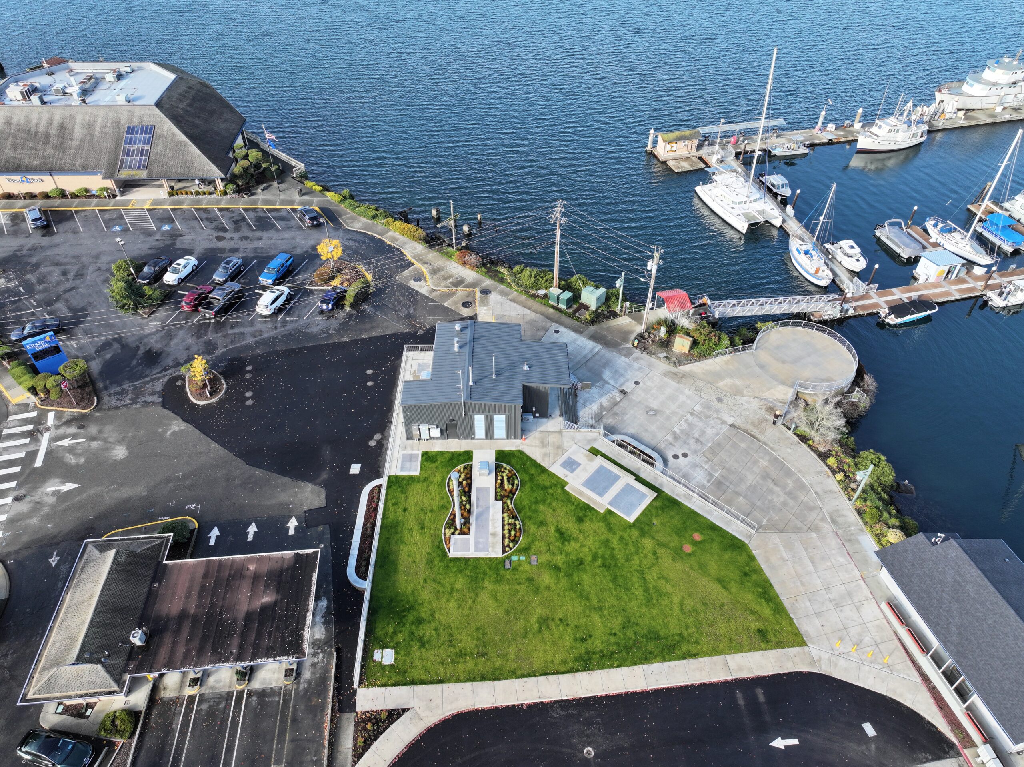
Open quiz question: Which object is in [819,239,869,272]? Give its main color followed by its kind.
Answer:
white boat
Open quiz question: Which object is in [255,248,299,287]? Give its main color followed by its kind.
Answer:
blue truck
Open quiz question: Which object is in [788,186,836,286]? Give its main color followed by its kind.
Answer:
white boat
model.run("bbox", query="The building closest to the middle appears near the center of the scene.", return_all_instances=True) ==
[401,319,571,442]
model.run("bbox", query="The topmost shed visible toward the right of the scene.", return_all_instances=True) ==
[655,123,701,156]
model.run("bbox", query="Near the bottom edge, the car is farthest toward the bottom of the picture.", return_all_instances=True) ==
[1,728,97,767]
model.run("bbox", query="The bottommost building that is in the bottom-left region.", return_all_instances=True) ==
[17,533,321,707]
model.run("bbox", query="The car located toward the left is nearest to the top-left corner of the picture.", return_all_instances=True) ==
[21,203,46,227]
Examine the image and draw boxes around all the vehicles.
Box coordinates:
[194,279,247,318]
[136,255,176,284]
[316,282,348,312]
[178,281,216,312]
[160,255,201,286]
[255,248,299,287]
[252,282,296,316]
[1,728,97,767]
[21,203,46,227]
[294,203,321,227]
[209,251,249,284]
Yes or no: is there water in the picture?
Yes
